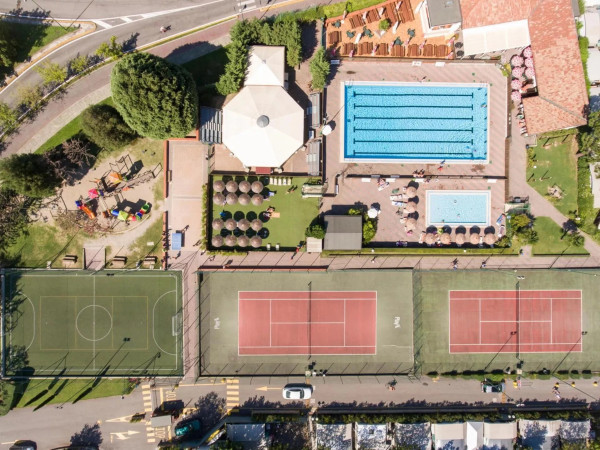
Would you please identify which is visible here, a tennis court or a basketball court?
tennis court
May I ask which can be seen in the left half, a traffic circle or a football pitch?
football pitch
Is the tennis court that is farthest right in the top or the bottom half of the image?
bottom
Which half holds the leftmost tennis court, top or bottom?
bottom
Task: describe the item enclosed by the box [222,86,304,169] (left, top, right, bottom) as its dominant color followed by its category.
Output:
white tent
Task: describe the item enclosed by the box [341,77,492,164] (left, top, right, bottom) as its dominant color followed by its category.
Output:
blue swimming pool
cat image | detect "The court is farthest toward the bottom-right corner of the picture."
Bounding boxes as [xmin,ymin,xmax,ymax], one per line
[414,270,600,374]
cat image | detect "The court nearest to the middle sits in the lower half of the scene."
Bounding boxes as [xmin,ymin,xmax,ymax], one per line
[201,271,414,376]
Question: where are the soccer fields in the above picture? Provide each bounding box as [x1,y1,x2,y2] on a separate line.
[2,270,182,377]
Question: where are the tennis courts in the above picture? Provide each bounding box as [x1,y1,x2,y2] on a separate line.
[414,270,600,374]
[201,271,414,376]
